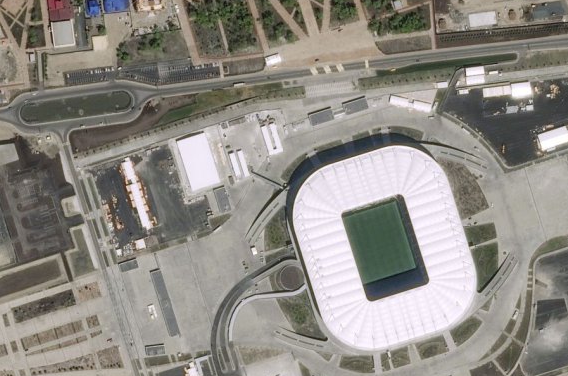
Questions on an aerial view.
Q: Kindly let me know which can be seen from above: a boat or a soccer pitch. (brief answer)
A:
soccer pitch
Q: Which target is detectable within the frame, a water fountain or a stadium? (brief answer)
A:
stadium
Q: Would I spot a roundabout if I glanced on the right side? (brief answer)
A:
No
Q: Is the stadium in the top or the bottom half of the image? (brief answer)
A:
bottom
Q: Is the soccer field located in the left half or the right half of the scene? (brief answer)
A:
right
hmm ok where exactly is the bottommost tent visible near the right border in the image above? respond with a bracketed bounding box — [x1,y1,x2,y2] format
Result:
[536,125,568,151]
